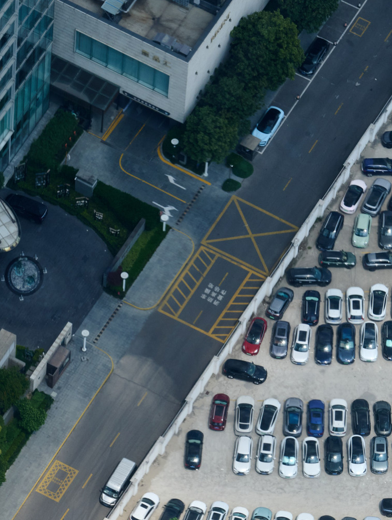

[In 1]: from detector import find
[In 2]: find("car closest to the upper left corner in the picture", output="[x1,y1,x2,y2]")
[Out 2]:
[5,193,50,224]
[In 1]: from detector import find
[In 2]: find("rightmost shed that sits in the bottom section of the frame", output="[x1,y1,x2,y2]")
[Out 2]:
[48,346,70,383]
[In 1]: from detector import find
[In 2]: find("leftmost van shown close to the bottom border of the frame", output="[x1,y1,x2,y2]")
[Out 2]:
[102,460,134,505]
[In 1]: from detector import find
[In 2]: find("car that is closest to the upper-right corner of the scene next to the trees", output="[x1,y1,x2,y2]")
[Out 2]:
[300,38,330,75]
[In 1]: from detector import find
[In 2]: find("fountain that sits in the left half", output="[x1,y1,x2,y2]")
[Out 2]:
[4,257,44,292]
